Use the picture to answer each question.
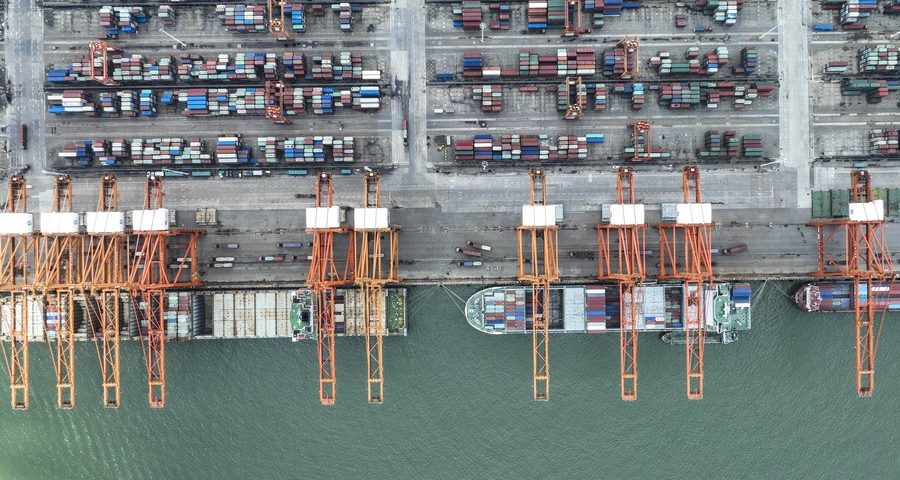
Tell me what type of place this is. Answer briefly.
port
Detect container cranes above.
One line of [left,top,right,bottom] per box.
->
[592,167,647,402]
[558,75,583,122]
[353,170,400,404]
[613,36,641,84]
[268,0,296,42]
[130,172,204,407]
[305,171,357,404]
[512,168,566,403]
[89,40,126,91]
[650,166,716,401]
[82,173,160,407]
[0,174,77,408]
[556,0,582,40]
[33,173,121,408]
[623,120,651,167]
[802,164,897,398]
[267,78,294,125]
